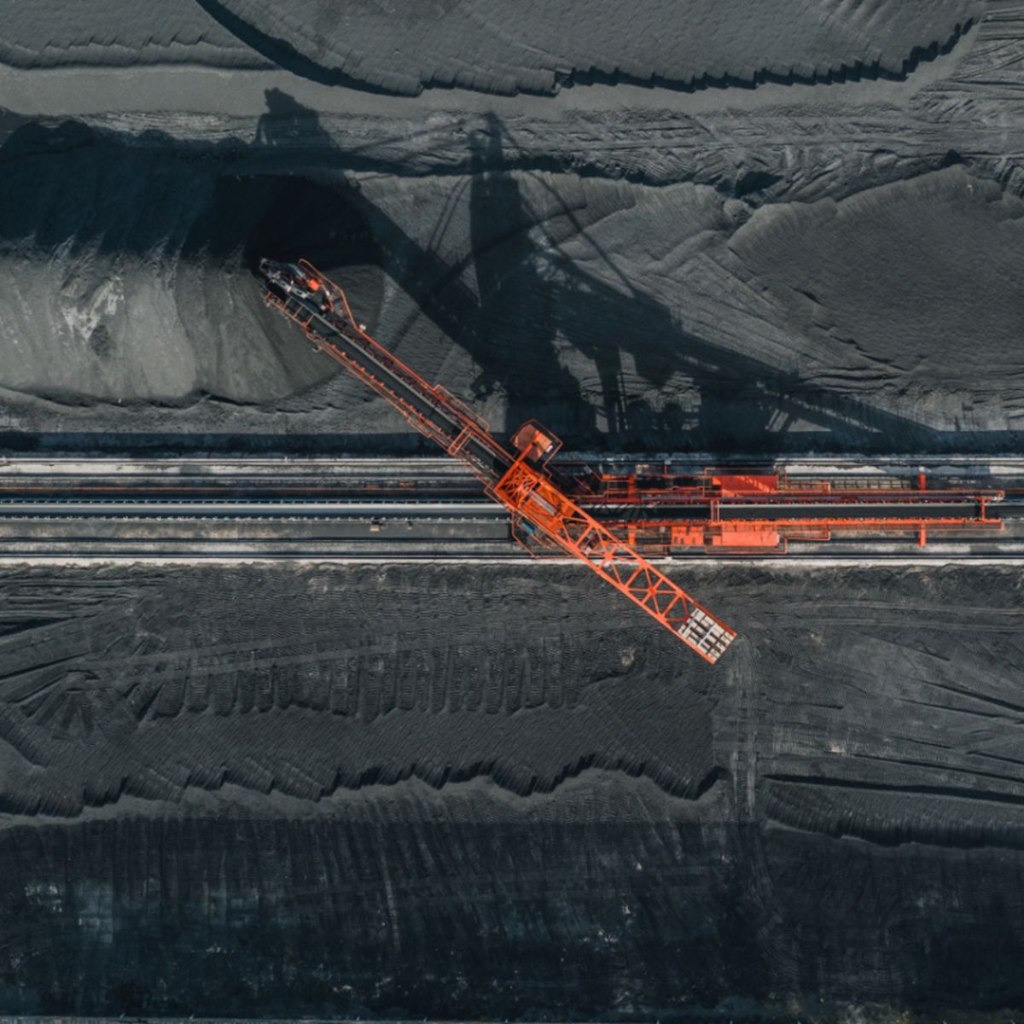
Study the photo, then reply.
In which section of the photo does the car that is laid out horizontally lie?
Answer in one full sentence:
The car that is laid out horizontally appears toward the right of the photo.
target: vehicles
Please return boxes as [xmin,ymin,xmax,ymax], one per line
[261,258,735,668]
[566,460,1024,558]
